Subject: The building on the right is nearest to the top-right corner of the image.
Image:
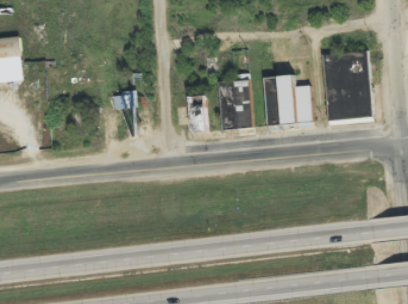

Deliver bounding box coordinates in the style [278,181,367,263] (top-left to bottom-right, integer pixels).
[322,50,374,124]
